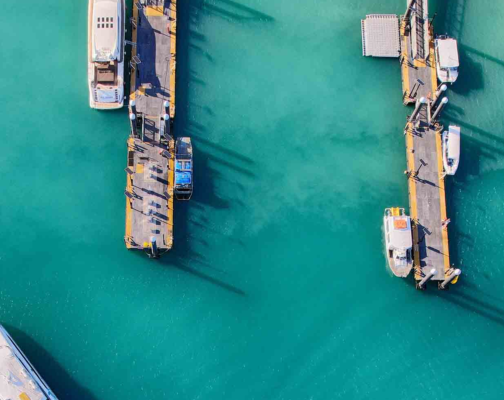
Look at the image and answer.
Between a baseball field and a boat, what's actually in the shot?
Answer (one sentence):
Visible in the photo is a boat.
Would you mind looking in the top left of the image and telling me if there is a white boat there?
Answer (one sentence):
Yes, a white boat shows up in the top left of the image.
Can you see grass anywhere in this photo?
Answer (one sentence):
No, there is no grass in the image.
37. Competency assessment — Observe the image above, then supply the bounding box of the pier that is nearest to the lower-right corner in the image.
[402,121,450,283]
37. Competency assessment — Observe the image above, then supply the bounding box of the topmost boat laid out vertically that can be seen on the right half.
[434,34,459,84]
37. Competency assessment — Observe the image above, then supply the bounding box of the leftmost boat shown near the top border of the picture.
[87,0,130,112]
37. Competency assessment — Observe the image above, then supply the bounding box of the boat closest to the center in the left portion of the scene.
[174,136,192,201]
